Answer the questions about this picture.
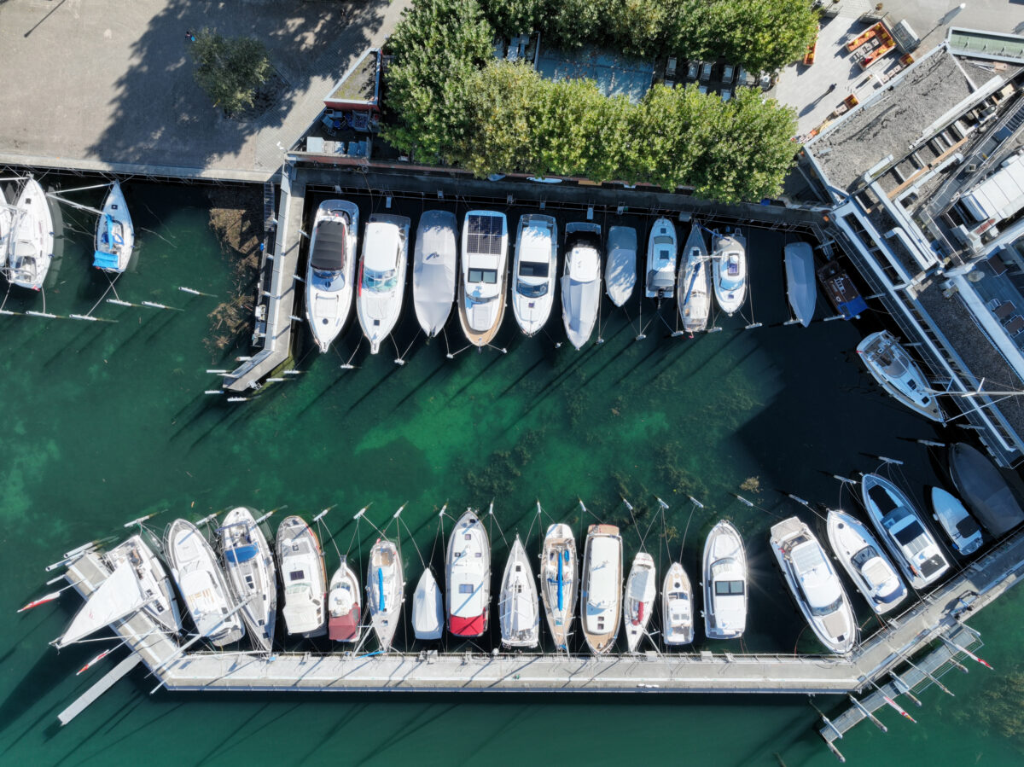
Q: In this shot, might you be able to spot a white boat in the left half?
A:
Yes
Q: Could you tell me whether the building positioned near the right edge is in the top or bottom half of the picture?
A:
top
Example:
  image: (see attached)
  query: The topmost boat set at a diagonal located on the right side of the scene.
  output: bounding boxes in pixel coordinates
[816,258,871,323]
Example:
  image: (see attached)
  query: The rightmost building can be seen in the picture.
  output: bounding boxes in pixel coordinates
[790,26,1024,468]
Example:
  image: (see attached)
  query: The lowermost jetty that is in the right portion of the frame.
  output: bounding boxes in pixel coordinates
[820,622,984,742]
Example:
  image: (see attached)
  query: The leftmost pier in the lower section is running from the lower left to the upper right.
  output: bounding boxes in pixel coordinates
[58,652,138,724]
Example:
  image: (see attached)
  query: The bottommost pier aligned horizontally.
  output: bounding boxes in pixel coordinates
[62,524,1024,691]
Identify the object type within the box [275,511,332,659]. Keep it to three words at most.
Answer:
boat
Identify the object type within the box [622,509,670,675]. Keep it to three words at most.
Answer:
boat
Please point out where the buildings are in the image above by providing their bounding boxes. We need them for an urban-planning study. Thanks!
[323,46,386,117]
[790,26,1024,468]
